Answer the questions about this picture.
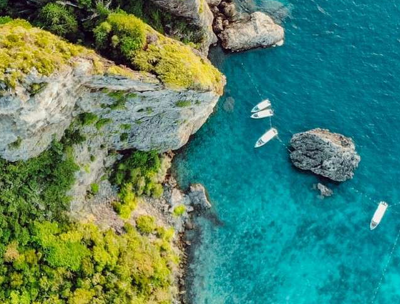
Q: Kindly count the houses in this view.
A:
0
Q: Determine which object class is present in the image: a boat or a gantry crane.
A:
boat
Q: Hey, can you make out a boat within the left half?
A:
No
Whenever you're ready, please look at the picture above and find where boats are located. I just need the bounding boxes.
[251,110,275,119]
[255,127,279,146]
[252,98,272,111]
[372,199,388,229]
